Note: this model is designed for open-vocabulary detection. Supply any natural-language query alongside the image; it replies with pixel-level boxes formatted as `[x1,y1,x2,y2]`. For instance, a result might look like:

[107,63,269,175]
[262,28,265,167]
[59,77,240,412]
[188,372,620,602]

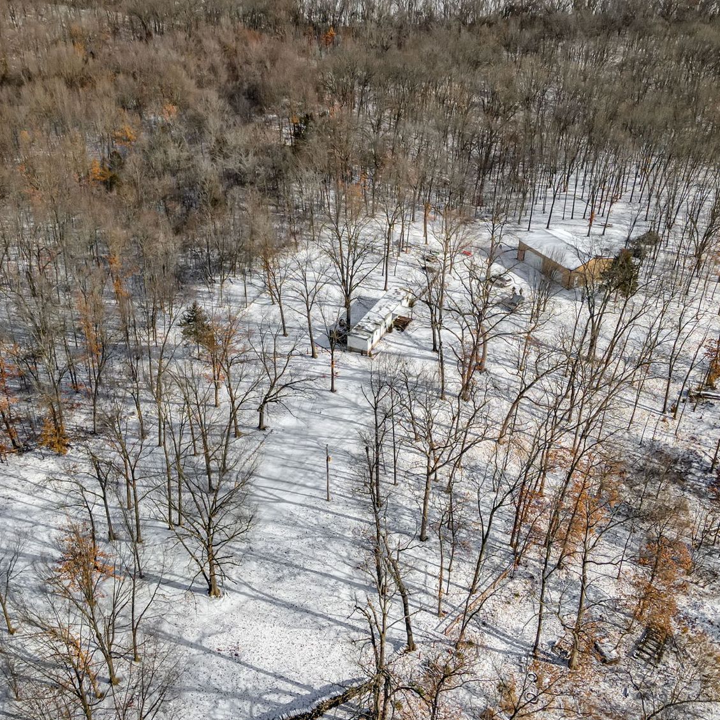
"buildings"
[518,224,616,289]
[346,283,409,350]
